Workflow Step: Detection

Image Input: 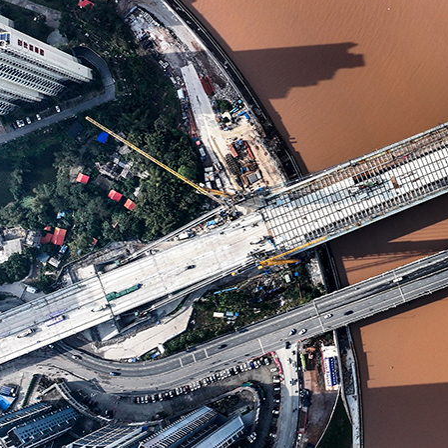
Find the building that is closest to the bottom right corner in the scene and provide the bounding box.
[323,346,342,389]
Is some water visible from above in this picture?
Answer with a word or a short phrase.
Yes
